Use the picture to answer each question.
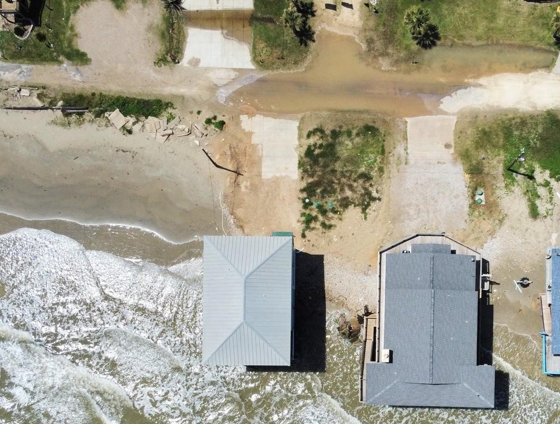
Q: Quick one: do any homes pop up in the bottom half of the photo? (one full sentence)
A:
Yes, I can see a home in the bottom half of the photo.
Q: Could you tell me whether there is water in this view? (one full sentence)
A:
Yes, there is water in the image.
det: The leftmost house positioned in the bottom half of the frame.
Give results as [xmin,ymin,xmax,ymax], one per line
[202,231,297,367]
